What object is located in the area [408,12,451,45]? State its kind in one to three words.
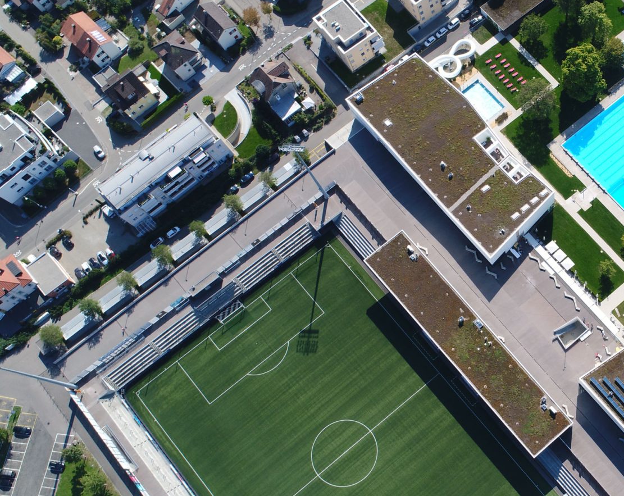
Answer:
building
